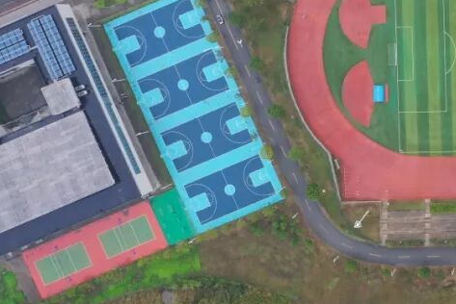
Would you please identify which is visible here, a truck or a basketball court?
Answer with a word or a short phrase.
basketball court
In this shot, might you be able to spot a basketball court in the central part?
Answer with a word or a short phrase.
Yes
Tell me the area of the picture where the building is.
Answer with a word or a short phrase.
left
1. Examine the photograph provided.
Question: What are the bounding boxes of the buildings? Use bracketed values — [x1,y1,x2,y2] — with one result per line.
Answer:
[0,4,153,256]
